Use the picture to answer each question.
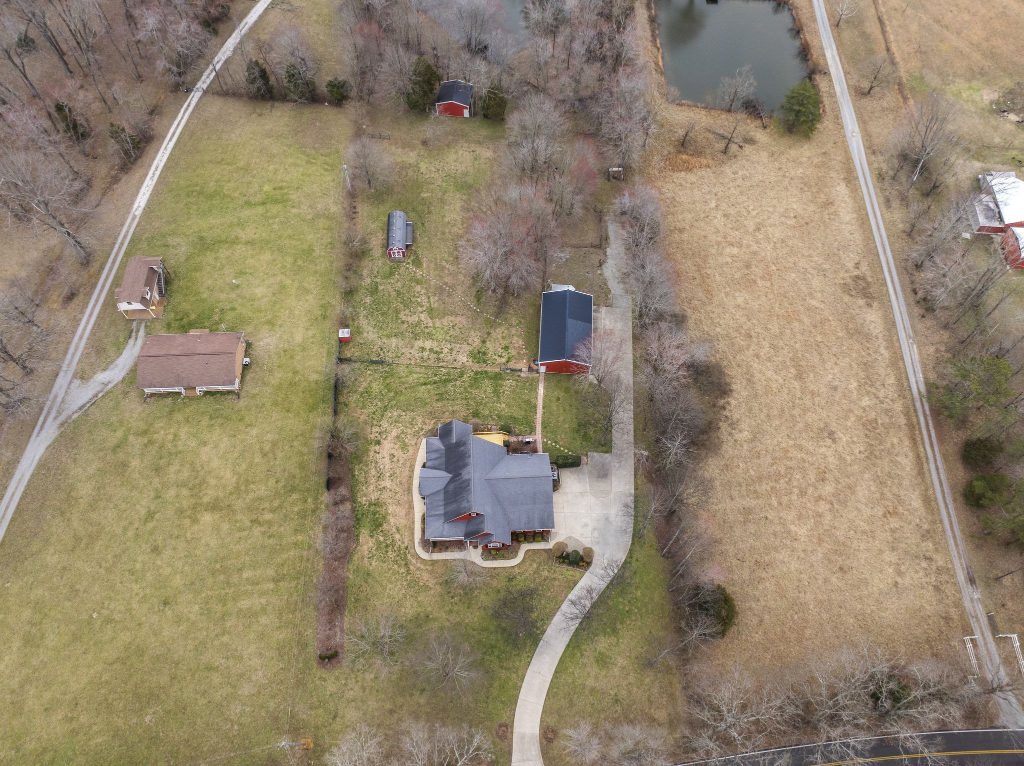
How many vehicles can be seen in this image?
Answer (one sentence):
Not a single vehicle can be seen.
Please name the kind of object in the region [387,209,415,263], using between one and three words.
shed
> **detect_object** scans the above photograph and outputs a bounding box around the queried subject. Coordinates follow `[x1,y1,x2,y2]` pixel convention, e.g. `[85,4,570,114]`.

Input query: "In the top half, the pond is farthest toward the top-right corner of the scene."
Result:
[651,0,813,124]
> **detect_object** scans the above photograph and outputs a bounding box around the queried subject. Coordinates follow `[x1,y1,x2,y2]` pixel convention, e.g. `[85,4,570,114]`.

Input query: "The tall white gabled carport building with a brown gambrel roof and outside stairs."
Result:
[114,254,172,320]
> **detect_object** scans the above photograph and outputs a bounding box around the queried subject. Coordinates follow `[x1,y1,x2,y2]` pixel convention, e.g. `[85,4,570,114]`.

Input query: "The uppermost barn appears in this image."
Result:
[432,76,473,117]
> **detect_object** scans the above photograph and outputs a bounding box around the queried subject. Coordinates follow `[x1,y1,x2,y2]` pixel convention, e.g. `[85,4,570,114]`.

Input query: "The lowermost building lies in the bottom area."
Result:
[417,419,555,553]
